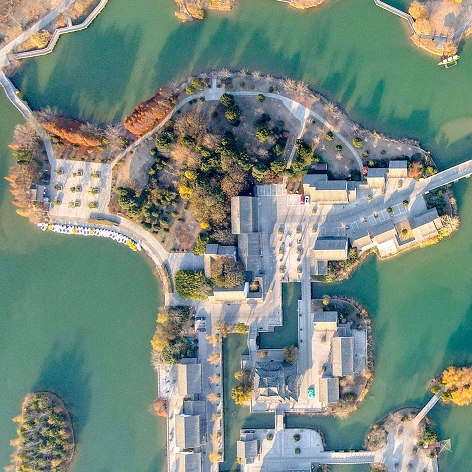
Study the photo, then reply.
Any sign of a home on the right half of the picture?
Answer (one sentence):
Yes, you'll find a home on the right half of the picture.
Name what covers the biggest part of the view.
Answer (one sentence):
The bulk of the photo consists of water.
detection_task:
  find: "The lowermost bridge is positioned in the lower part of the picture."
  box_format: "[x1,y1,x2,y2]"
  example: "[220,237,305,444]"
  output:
[318,451,383,464]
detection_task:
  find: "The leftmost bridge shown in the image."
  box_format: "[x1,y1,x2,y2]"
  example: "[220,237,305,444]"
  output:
[0,64,50,143]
